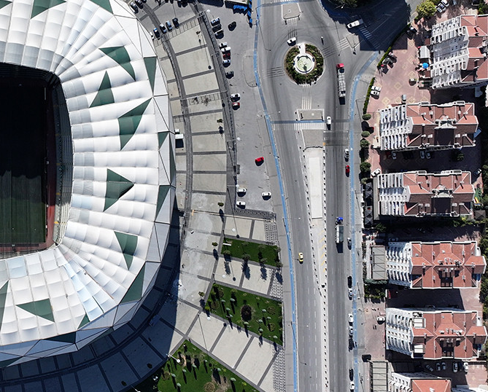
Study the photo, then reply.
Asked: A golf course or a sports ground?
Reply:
sports ground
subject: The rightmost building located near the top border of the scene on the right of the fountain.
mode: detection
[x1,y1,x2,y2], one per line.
[430,15,488,85]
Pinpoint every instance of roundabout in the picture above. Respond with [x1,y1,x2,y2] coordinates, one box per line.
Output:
[284,43,325,84]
